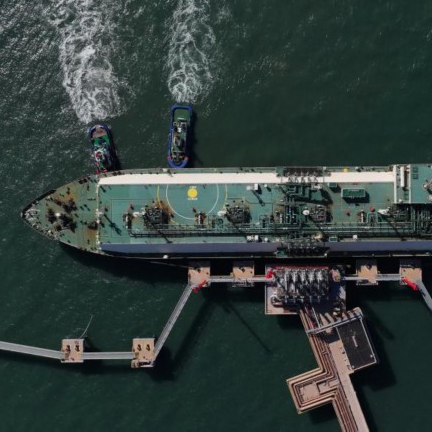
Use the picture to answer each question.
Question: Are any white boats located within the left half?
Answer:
No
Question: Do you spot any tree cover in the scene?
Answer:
No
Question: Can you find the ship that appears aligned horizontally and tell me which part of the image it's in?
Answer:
center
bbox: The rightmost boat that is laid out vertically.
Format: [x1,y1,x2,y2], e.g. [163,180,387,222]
[166,104,194,168]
